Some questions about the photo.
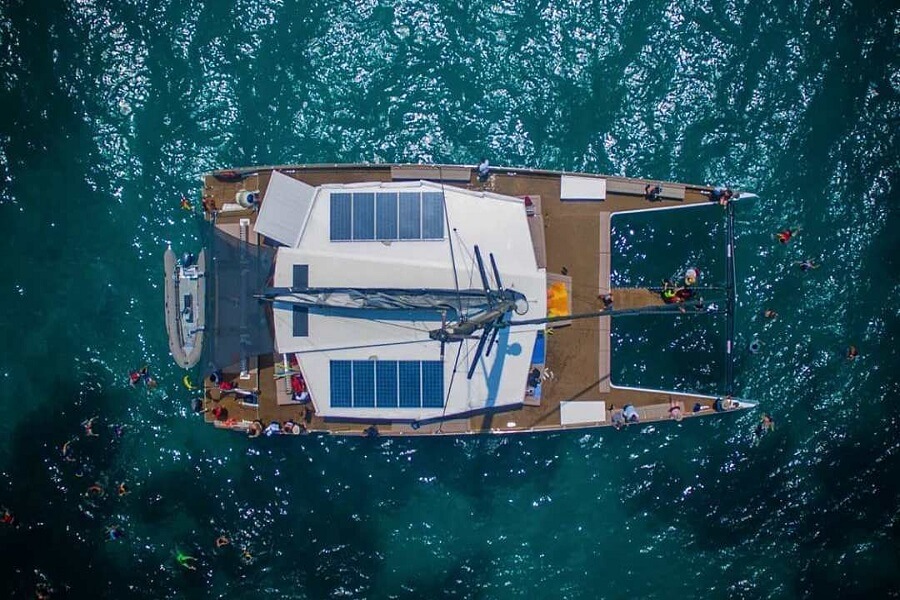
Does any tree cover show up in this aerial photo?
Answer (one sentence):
No, there's no tree cover in this view.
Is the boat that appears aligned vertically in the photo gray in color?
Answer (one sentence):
Yes, the boat that appears aligned vertically is gray.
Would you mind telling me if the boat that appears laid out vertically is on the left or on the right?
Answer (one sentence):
The boat that appears laid out vertically sits on the left side.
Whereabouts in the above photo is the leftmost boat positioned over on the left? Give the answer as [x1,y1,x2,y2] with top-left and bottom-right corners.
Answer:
[165,243,205,366]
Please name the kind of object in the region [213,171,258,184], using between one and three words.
boat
